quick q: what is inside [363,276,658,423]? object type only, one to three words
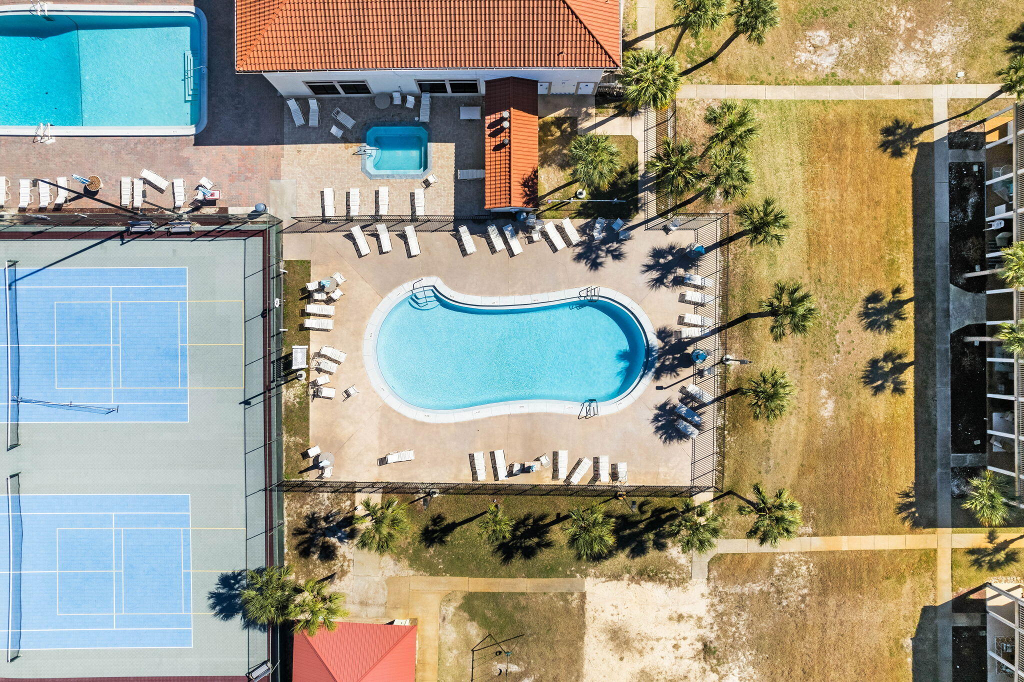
swimming pool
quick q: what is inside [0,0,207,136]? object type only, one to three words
swimming pool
